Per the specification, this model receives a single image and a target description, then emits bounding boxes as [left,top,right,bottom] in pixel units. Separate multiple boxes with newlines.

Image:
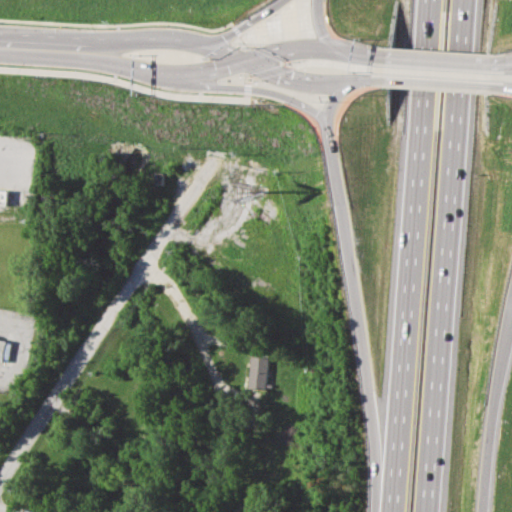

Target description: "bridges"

[385,48,504,96]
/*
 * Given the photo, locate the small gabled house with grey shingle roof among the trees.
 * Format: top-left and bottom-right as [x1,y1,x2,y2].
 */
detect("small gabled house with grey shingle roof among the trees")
[246,356,272,391]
